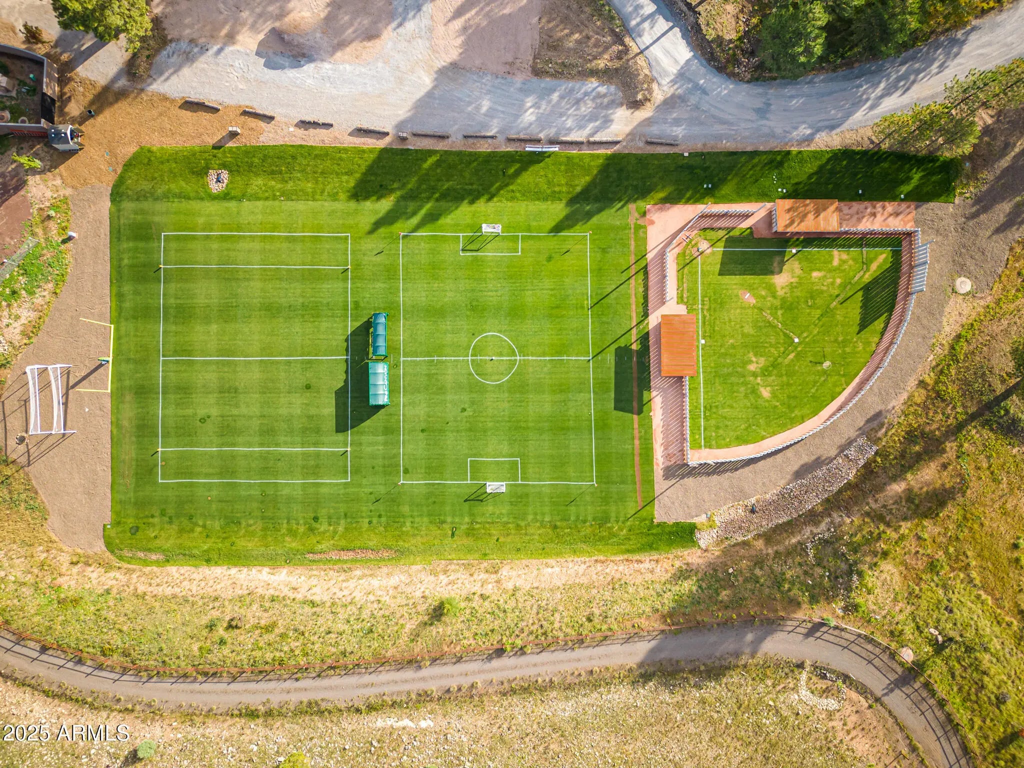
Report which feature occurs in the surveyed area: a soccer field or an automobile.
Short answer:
soccer field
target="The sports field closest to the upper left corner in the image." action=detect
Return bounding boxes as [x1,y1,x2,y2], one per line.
[159,232,350,483]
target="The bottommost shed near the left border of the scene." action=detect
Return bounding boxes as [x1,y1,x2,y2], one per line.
[42,124,86,153]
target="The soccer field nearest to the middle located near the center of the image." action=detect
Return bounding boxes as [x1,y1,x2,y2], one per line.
[348,233,644,484]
